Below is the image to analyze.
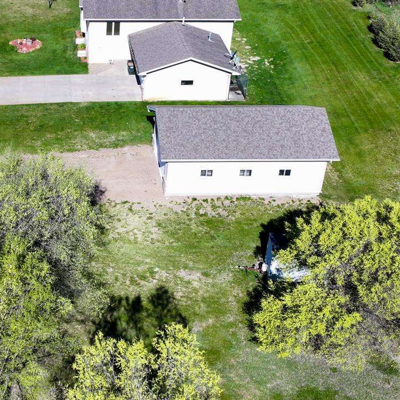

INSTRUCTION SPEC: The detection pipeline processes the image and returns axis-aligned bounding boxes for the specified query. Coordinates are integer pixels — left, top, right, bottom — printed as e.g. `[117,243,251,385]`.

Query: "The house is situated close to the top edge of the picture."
[78,0,241,99]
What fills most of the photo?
grass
